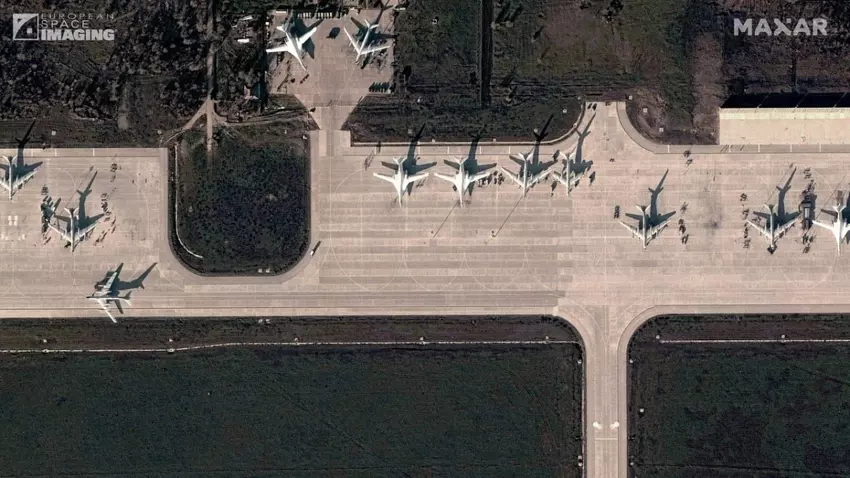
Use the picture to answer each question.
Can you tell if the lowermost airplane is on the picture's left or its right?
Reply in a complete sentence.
The lowermost airplane is on the left side of the image.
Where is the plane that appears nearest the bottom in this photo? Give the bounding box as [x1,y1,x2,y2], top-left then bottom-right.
[87,273,134,323]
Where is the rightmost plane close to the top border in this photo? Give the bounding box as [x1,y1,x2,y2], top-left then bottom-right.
[344,20,390,66]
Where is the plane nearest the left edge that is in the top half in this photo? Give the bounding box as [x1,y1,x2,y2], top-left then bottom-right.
[0,153,36,202]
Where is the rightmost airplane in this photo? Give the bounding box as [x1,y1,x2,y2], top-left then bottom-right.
[813,202,850,255]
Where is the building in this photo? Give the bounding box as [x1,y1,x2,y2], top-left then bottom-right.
[244,79,260,99]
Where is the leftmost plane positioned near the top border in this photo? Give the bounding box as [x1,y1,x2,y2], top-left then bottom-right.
[266,22,316,70]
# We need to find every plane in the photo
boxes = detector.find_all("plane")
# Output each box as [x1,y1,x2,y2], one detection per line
[266,22,316,70]
[0,153,36,202]
[813,202,850,255]
[748,202,799,250]
[554,149,583,195]
[87,273,134,323]
[434,154,490,207]
[374,156,428,207]
[620,202,670,250]
[344,20,390,66]
[48,205,98,252]
[501,151,551,198]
